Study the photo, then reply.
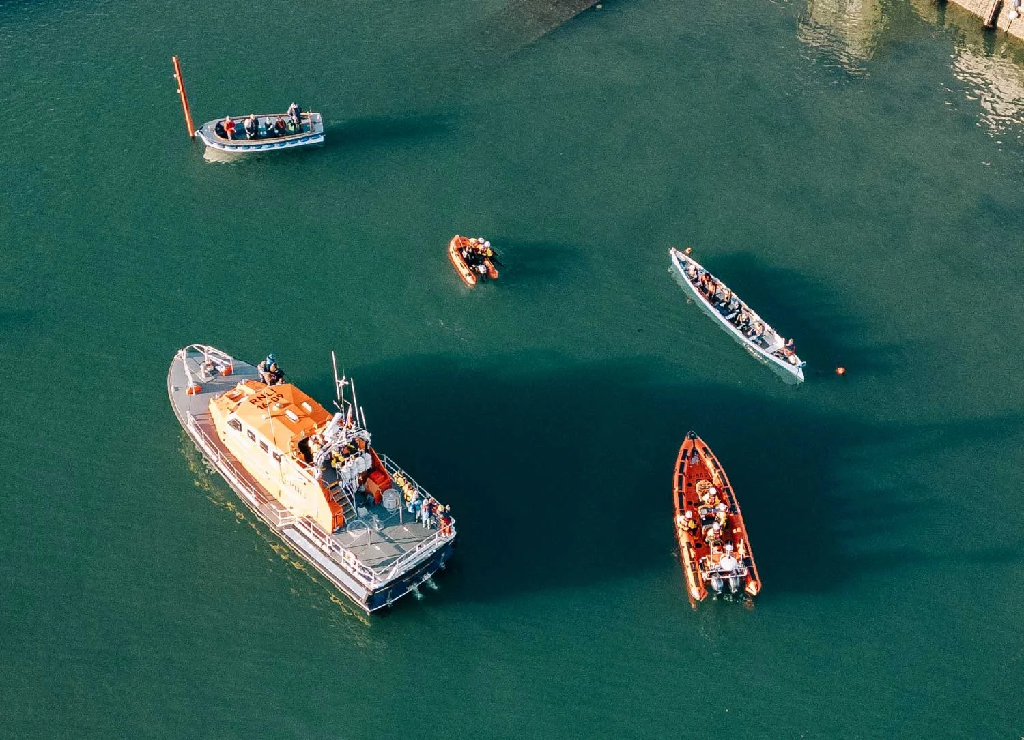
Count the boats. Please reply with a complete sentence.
My tally gives 5 boats in this view.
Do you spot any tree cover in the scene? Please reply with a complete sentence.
No, there is no tree cover in the image.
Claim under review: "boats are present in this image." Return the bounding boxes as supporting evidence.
[167,339,457,618]
[446,235,501,289]
[194,106,330,155]
[672,431,757,607]
[671,244,815,389]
